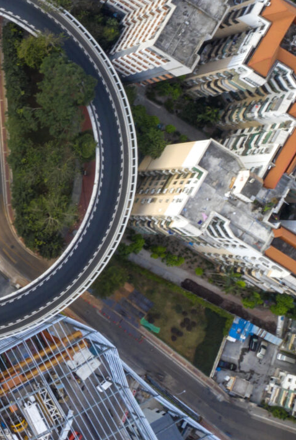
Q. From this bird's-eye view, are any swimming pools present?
No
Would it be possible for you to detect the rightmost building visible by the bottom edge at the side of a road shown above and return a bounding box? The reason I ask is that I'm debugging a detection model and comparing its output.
[238,357,296,418]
